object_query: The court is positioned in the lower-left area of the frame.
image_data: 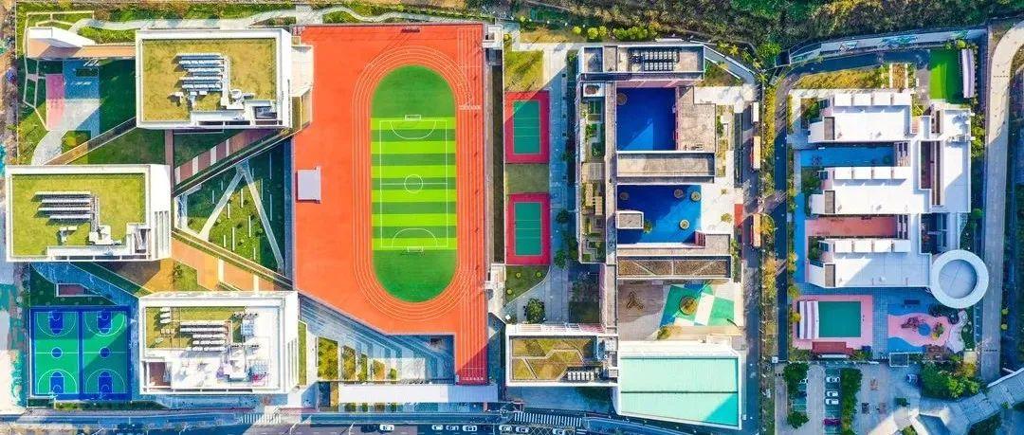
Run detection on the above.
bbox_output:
[29,306,132,399]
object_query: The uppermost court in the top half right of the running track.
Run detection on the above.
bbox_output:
[505,91,549,164]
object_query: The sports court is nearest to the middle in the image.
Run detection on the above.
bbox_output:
[505,193,551,266]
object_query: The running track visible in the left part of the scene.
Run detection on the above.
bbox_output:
[292,23,491,383]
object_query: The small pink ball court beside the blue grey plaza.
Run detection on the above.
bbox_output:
[46,74,64,131]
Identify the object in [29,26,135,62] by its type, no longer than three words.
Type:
building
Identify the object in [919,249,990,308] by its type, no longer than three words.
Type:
building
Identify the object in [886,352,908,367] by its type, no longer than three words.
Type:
shed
